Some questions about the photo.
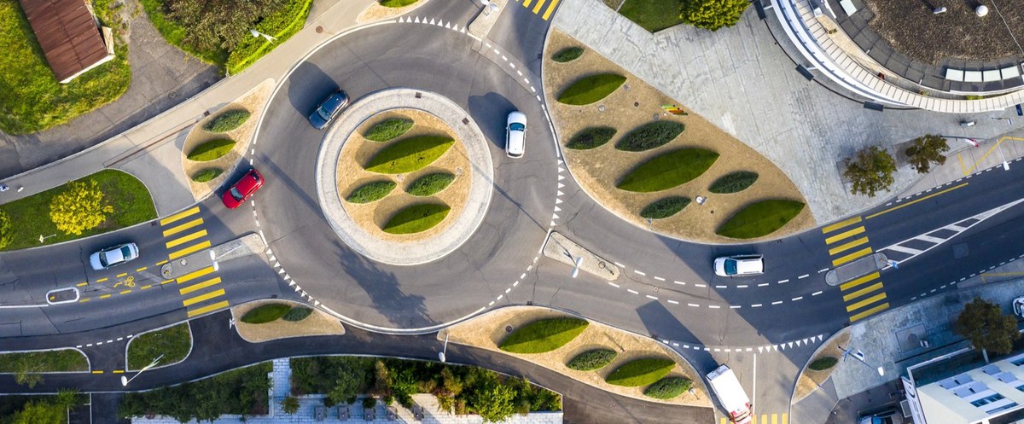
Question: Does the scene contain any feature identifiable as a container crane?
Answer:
No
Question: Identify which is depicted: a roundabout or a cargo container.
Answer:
roundabout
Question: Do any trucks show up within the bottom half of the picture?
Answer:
Yes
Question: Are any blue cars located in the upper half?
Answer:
Yes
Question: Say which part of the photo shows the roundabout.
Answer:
center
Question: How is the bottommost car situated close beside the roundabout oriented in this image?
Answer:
at an angle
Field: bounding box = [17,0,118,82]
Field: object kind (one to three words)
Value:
shed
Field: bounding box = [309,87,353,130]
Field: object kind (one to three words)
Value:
car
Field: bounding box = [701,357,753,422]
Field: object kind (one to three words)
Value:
truck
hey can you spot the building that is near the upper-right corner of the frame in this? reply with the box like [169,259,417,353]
[752,0,1024,121]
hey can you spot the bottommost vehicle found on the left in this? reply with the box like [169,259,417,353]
[90,240,143,271]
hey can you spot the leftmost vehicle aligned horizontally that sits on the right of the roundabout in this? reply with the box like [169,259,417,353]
[711,253,766,278]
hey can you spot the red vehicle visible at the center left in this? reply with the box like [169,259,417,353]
[221,167,267,209]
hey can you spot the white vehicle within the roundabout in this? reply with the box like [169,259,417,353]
[505,112,529,158]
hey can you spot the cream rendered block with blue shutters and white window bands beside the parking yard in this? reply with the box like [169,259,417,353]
[923,355,1024,424]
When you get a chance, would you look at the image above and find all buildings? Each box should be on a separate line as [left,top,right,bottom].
[923,355,1024,424]
[752,0,1024,121]
[17,0,118,82]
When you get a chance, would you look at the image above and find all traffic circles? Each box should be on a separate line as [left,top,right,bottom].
[250,18,564,336]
